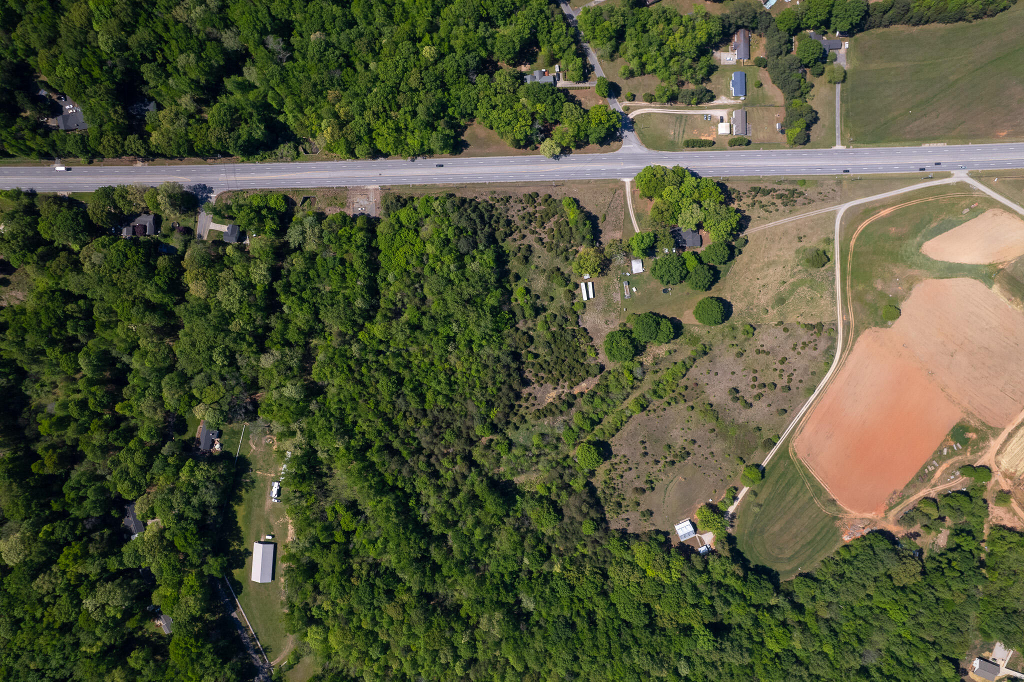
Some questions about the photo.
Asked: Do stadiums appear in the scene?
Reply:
No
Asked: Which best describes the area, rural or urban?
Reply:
rural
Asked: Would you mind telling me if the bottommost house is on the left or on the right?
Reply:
right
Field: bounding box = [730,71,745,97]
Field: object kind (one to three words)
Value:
house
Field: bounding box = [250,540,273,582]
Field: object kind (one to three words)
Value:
barn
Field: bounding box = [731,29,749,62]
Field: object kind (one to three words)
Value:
house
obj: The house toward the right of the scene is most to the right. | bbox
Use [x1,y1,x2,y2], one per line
[970,658,997,681]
